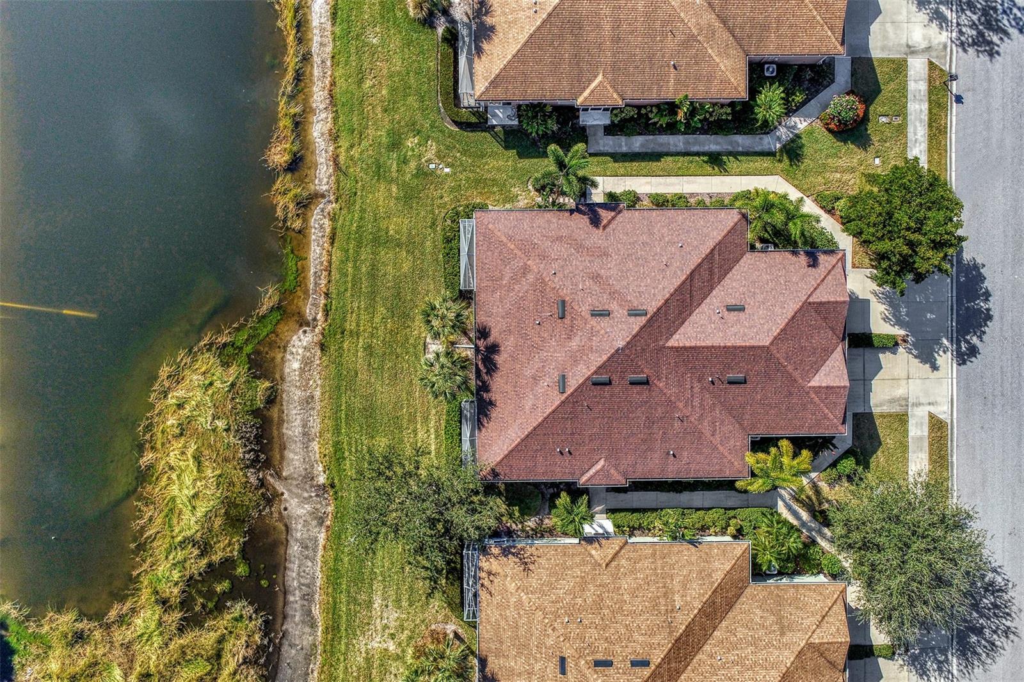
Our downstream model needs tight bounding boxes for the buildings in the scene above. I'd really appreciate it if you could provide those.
[463,528,852,682]
[459,201,850,487]
[459,0,848,119]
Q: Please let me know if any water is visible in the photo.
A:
Yes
